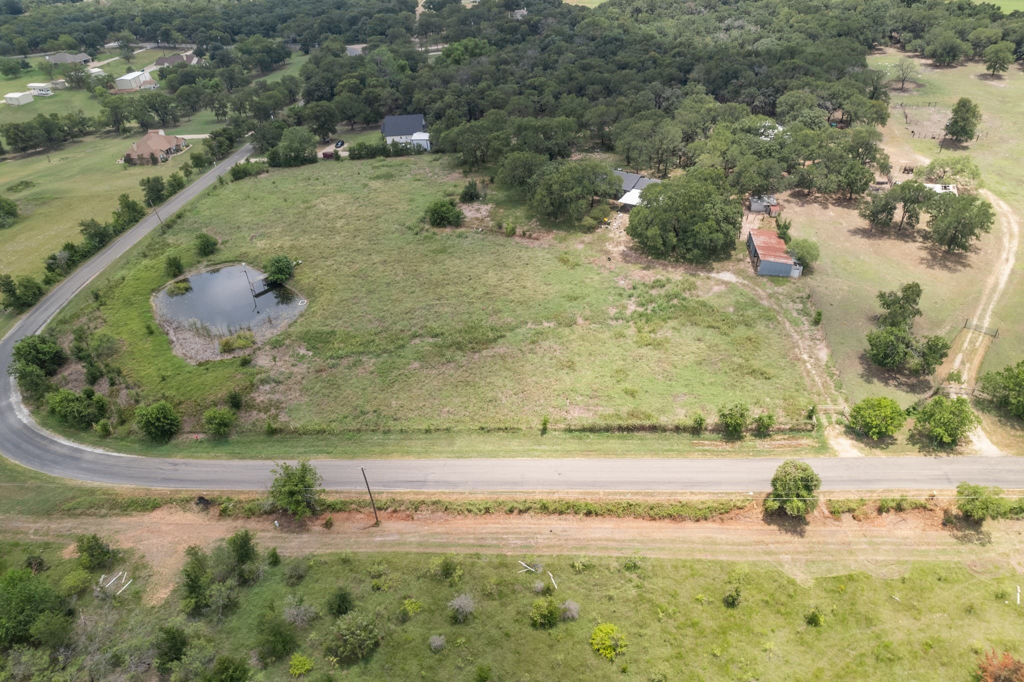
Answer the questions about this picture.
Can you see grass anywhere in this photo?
Yes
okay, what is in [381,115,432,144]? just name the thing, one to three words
house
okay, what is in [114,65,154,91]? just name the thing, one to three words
building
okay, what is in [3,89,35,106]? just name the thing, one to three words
barn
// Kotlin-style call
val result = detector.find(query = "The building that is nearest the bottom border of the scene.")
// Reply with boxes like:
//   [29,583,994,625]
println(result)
[746,229,806,276]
